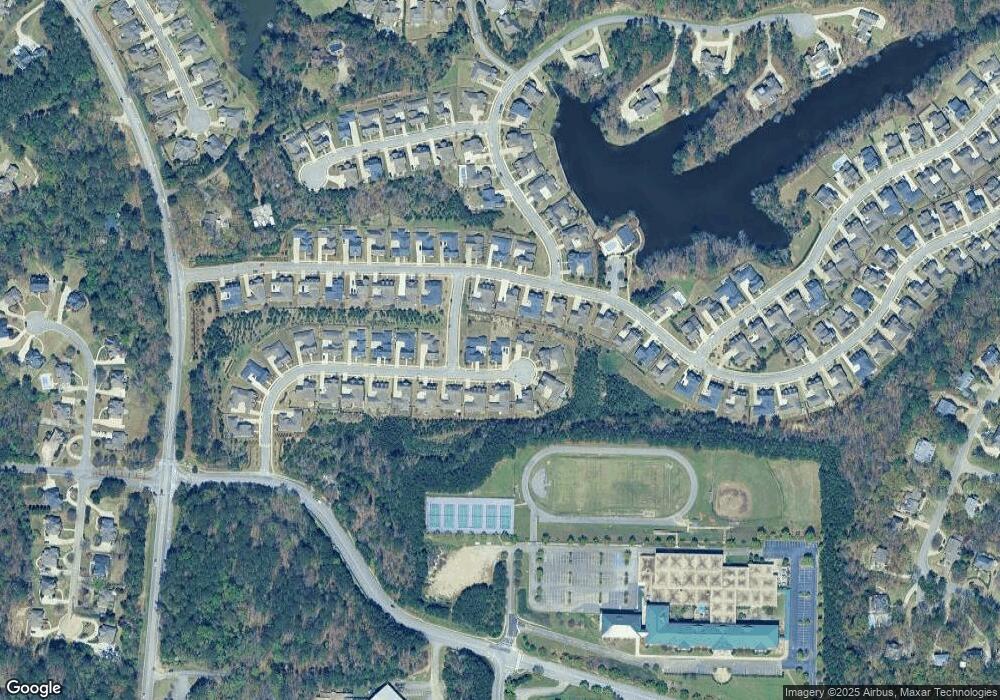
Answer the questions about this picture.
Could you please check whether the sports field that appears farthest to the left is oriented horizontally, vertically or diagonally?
horizontally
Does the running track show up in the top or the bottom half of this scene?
bottom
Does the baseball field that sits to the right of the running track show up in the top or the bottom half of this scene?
bottom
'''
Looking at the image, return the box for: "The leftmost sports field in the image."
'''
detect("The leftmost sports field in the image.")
[530,453,689,517]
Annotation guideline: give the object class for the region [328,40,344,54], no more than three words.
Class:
swimming pool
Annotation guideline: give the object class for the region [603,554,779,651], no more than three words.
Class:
building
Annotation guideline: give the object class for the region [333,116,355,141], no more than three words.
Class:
house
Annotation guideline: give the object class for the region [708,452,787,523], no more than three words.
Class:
baseball field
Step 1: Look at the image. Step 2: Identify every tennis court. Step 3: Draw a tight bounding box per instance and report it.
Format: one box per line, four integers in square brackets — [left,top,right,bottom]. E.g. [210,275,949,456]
[472,504,483,528]
[457,504,470,528]
[443,504,455,528]
[485,504,497,528]
[499,504,511,528]
[430,504,440,528]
